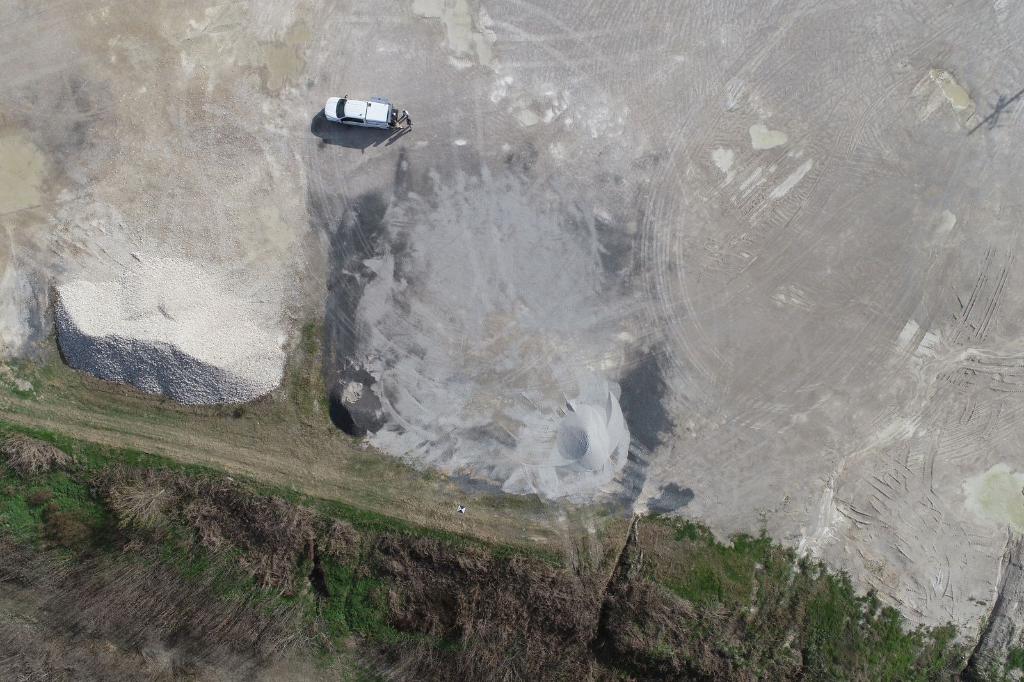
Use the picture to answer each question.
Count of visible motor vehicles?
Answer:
1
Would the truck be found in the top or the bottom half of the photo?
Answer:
top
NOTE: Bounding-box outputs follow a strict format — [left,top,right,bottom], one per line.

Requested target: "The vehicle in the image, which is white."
[324,94,399,130]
